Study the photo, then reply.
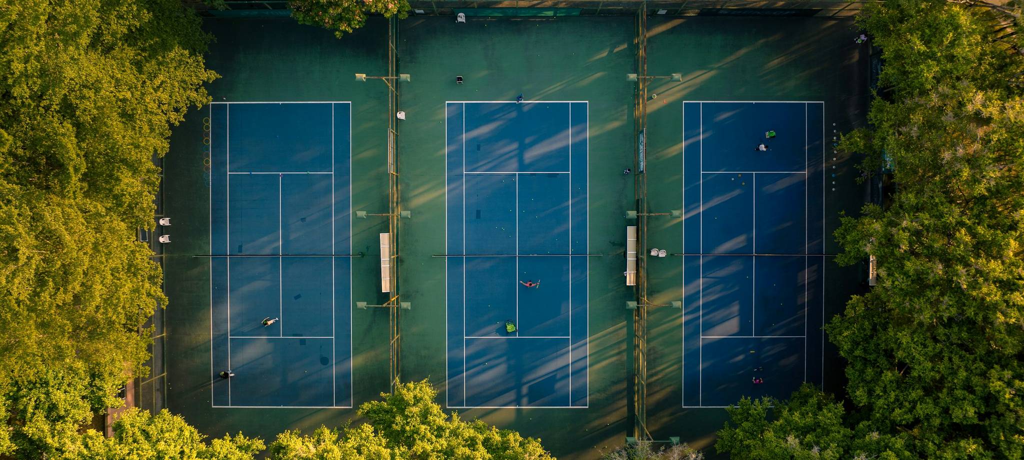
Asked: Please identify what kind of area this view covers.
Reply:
sports ground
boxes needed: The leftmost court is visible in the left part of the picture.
[164,18,398,460]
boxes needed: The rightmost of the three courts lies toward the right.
[637,18,869,460]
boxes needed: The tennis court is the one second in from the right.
[399,18,636,460]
